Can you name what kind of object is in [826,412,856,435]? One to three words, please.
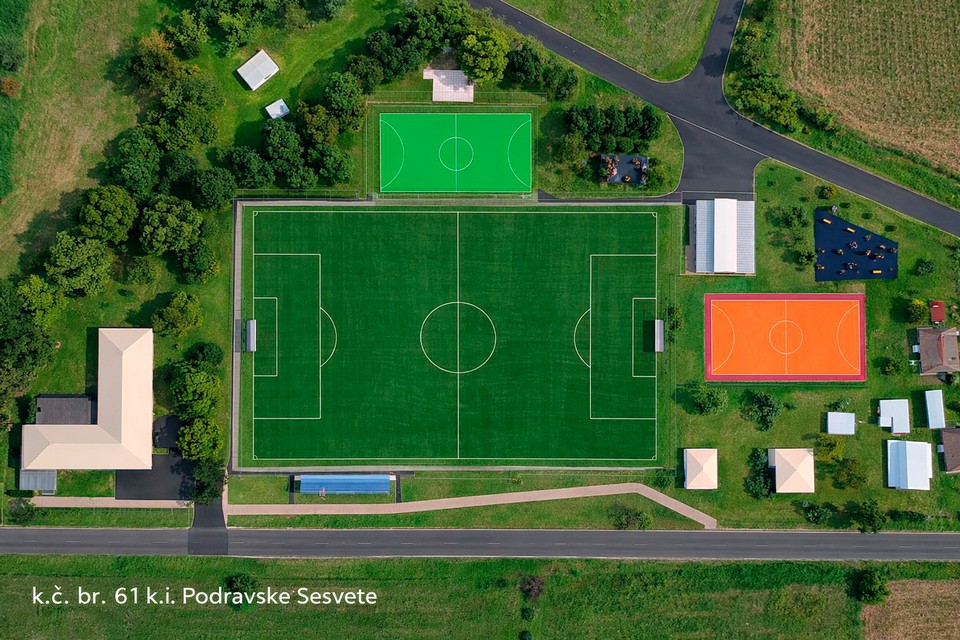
shed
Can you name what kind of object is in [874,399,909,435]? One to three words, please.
building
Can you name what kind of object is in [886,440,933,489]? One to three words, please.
barn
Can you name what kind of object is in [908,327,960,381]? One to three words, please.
house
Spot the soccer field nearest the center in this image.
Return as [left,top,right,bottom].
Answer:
[240,206,675,468]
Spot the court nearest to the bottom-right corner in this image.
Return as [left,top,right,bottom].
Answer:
[704,293,866,381]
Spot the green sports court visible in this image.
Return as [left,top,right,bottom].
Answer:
[373,104,537,198]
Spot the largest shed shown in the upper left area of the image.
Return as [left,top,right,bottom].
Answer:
[237,50,279,91]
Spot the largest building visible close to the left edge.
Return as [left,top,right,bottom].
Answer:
[22,328,154,469]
